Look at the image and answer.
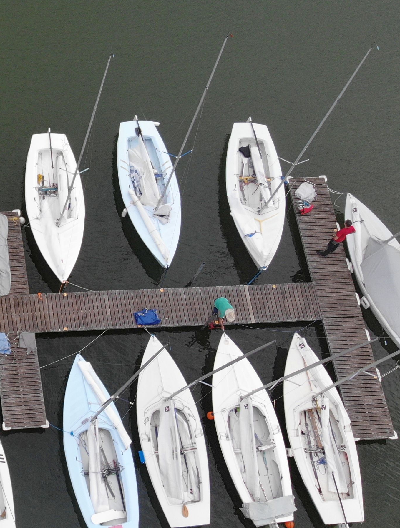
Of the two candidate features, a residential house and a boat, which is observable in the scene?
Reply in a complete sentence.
Looking from above, you can make out a boat.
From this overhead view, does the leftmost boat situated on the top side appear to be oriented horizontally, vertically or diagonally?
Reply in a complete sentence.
The leftmost boat situated on the top side is laid out vertically.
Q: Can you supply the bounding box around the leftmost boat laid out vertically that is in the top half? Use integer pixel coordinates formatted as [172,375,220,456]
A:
[27,52,113,282]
